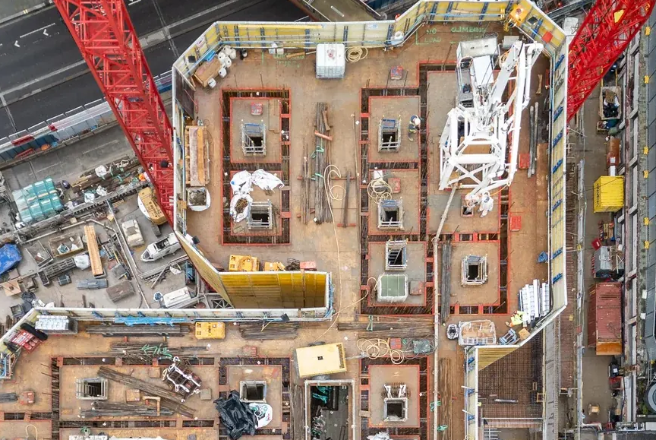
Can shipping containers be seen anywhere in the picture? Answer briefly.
Yes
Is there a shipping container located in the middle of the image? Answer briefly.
No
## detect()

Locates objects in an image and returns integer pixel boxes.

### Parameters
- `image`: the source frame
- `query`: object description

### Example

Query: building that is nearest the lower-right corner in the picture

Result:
[588,247,632,283]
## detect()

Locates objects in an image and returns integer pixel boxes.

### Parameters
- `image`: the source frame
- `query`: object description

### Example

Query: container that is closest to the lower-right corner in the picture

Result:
[586,279,624,351]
